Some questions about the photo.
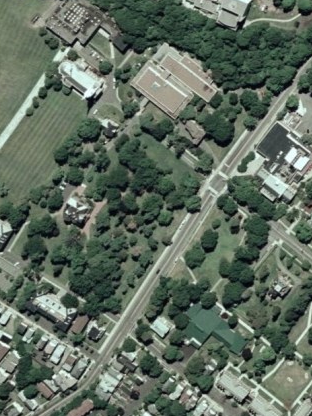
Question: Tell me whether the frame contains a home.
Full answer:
Yes, looking at the shot, I can spot a home.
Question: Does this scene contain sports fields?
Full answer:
Yes, I can see a sports field in this picture.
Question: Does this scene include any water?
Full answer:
No, there's no water in this view.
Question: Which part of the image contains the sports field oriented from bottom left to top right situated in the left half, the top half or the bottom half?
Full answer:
It is in the top half that the sports field oriented from bottom left to top right situated in the left half appears.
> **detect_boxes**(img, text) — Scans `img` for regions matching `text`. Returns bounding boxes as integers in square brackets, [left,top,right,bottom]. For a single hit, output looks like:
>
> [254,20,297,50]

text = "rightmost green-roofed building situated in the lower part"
[183,304,248,355]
